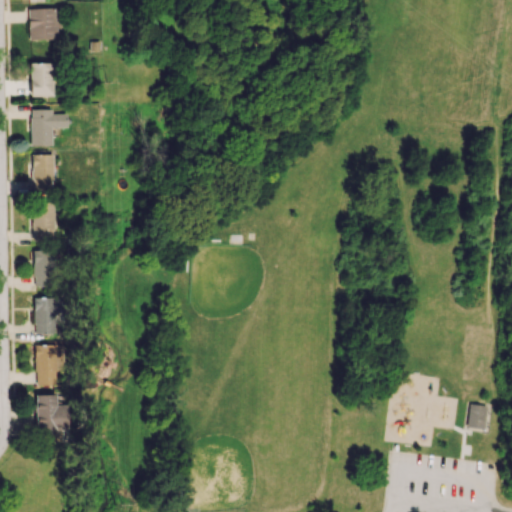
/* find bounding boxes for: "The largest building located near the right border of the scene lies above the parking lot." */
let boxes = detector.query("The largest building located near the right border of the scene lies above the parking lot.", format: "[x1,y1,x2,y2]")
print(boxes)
[467,402,487,430]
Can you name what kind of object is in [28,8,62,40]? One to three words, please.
house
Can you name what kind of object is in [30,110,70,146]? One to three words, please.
house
